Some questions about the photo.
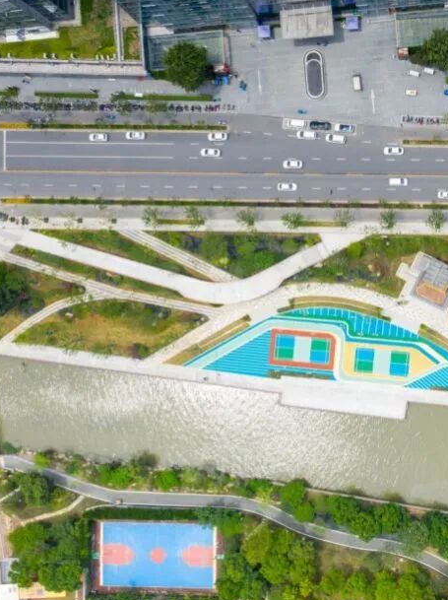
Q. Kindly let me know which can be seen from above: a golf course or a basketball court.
basketball court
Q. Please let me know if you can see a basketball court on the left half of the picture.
Yes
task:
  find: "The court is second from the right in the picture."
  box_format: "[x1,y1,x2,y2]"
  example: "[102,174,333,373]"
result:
[268,329,336,370]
